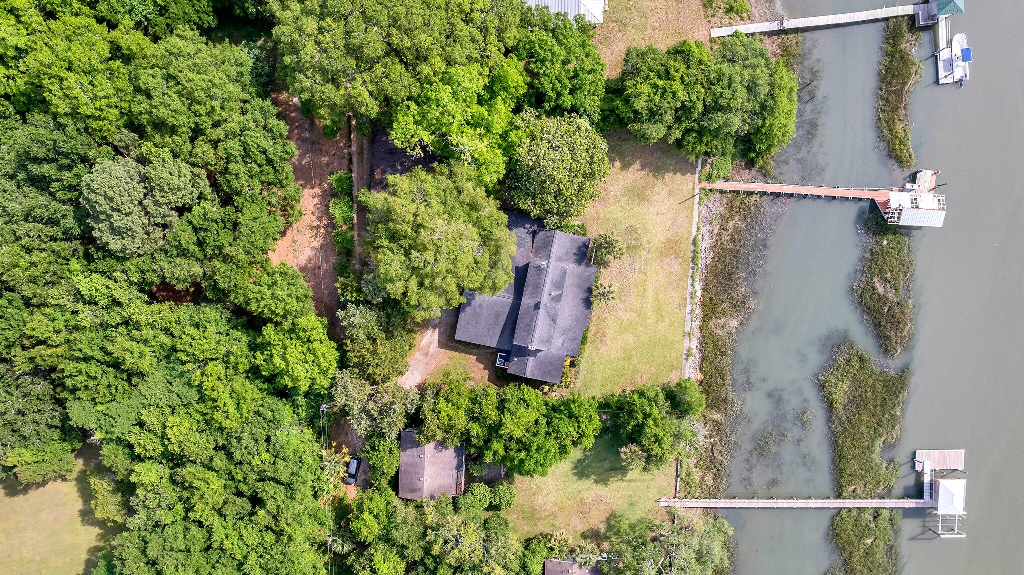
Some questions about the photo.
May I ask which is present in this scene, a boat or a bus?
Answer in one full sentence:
Looking from above, you can make out a boat.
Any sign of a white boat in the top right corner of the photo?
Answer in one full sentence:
Yes, the scene does show a white boat in the top right corner of the photo.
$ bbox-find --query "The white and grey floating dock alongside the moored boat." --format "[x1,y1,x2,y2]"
[936,48,954,85]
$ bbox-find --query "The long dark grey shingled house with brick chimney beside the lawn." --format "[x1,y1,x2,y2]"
[455,229,597,383]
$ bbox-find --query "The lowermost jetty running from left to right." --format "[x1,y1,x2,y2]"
[655,480,967,510]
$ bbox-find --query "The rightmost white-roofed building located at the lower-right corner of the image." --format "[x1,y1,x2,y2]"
[937,479,975,518]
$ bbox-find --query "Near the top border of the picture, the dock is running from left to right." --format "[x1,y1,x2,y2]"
[711,0,937,38]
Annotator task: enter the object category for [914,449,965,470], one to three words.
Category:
pier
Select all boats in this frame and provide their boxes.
[953,35,979,87]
